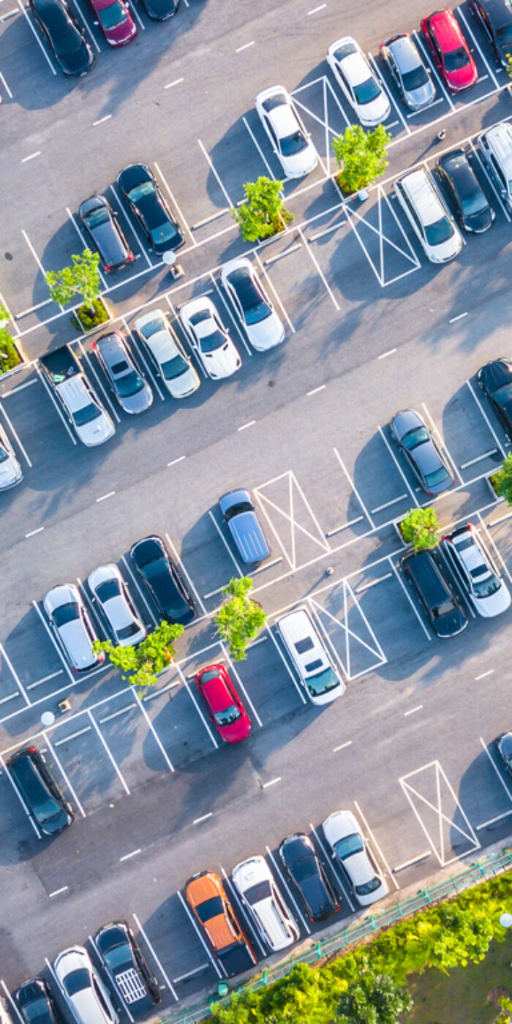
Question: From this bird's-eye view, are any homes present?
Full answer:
No, no home can be seen from above.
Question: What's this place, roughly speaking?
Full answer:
It's a parking lot.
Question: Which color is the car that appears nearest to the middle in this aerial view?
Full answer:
From above, the car that appears nearest to the middle appears blue.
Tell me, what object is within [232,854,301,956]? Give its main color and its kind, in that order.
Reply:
white car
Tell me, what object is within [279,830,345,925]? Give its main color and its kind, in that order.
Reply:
blue car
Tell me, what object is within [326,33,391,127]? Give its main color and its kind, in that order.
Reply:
white car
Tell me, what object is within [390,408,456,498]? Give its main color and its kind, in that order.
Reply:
blue car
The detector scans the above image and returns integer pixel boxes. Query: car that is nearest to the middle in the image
[218,486,273,565]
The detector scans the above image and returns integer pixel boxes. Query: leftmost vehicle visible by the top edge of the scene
[23,0,90,80]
